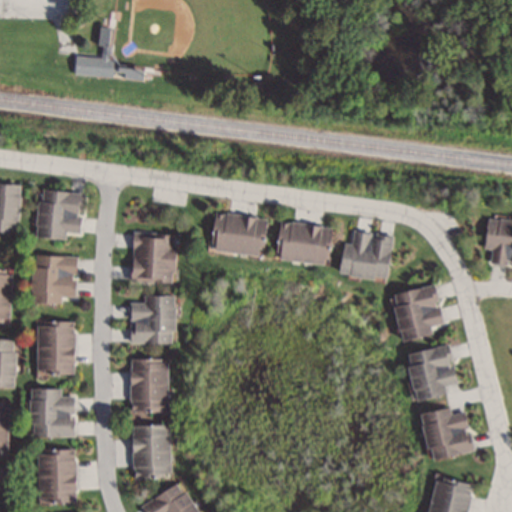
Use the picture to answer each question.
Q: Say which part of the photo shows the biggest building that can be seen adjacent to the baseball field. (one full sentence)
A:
The biggest building that can be seen adjacent to the baseball field appears toward the top left of the photo.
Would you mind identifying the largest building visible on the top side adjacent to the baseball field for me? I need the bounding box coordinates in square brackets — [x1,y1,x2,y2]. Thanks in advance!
[76,27,119,78]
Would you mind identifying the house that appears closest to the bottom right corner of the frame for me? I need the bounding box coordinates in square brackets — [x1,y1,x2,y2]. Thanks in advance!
[432,476,472,512]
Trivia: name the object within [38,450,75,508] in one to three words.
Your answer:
house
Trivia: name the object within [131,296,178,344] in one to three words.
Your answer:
house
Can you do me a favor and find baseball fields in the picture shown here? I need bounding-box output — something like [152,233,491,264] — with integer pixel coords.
[117,0,270,78]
